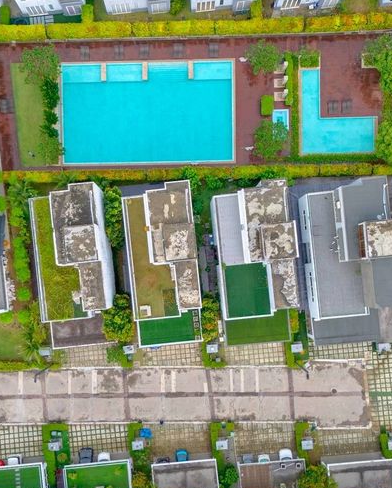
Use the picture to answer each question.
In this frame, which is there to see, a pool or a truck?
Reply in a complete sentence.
I can see a pool in this picture.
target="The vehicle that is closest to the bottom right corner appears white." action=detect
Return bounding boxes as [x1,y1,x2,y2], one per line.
[278,447,293,460]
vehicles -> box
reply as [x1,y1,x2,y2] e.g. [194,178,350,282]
[256,453,269,462]
[175,448,189,462]
[151,458,163,463]
[158,456,170,461]
[97,451,111,462]
[241,453,255,464]
[79,447,93,465]
[8,455,22,465]
[278,447,293,460]
[0,458,5,466]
